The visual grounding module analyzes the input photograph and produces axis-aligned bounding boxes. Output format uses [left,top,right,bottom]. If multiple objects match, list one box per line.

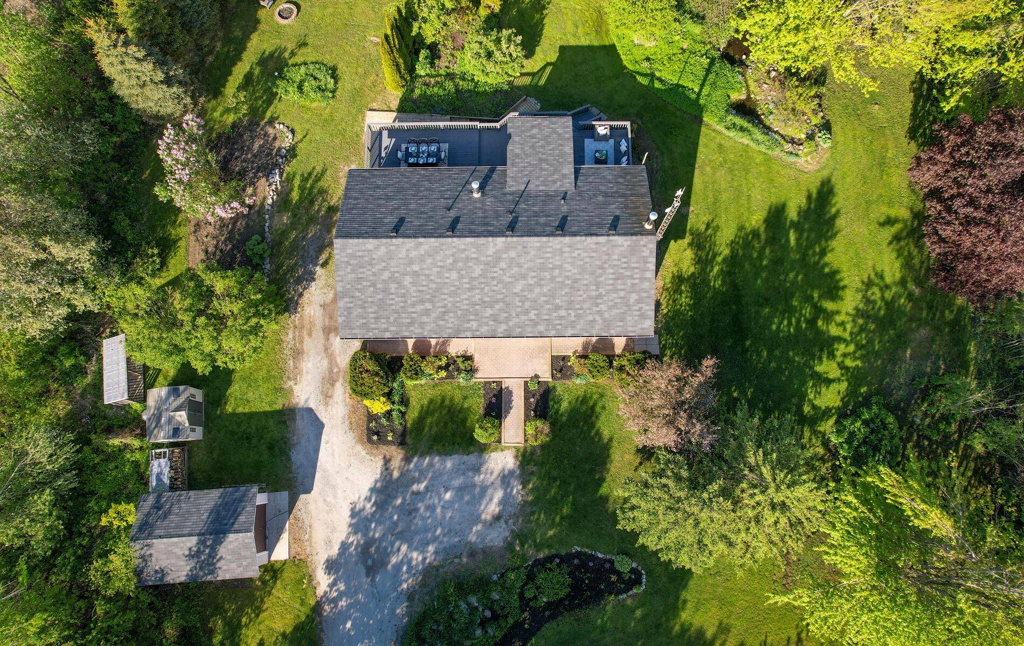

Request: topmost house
[334,115,657,342]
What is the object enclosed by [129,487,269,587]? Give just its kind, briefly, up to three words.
building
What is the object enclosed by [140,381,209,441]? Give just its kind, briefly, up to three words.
shed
